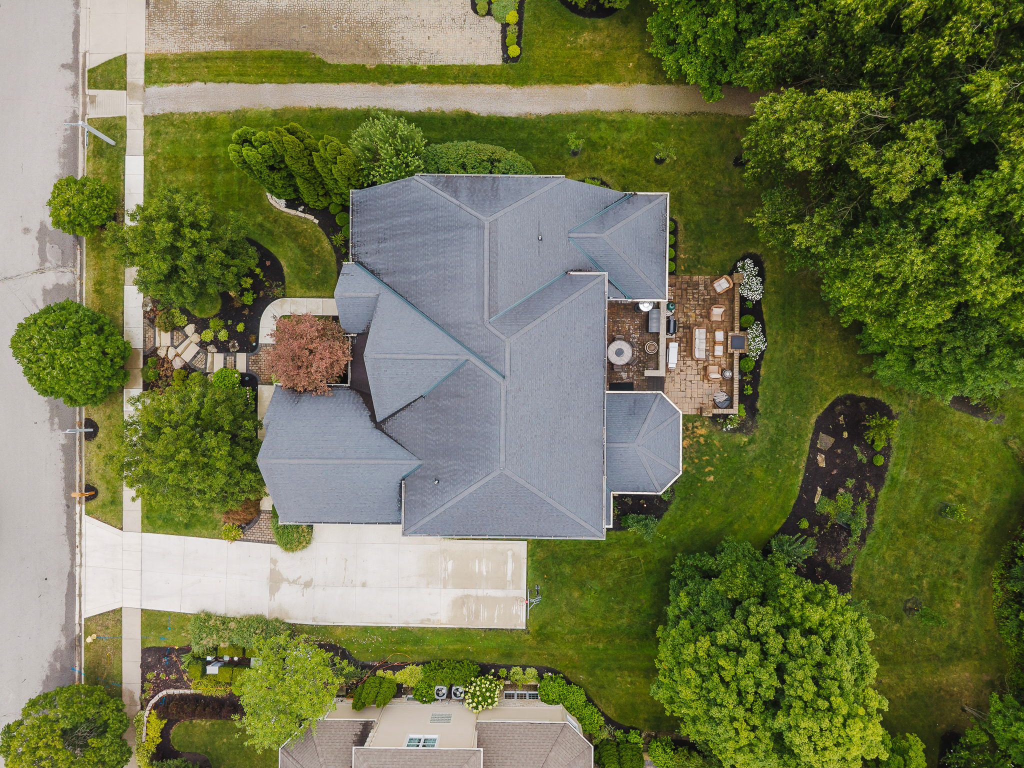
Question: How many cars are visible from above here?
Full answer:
I count no cars.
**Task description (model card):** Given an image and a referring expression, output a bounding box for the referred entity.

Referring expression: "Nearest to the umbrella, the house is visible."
[257,173,683,540]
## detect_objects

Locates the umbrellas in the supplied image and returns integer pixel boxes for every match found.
[711,388,731,409]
